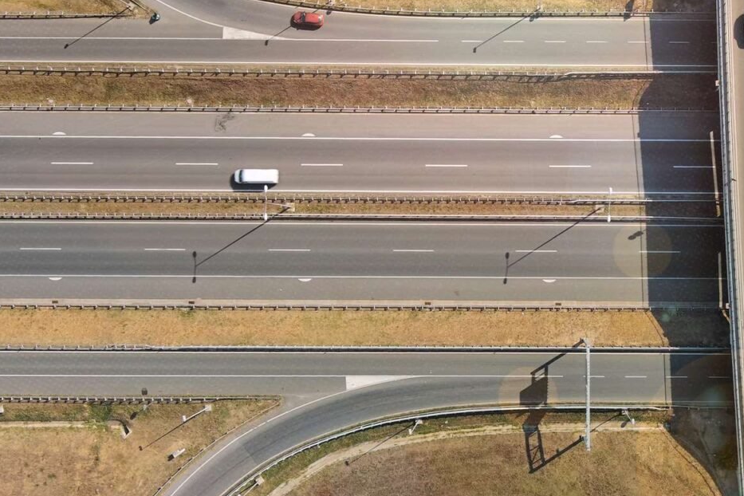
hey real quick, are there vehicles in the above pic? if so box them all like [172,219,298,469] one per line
[292,12,325,27]
[234,169,279,186]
